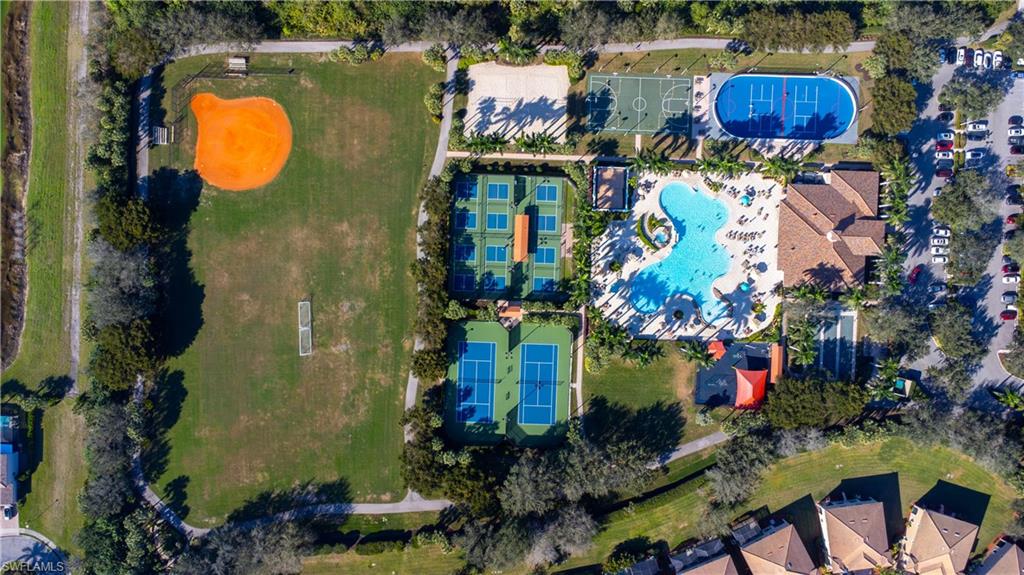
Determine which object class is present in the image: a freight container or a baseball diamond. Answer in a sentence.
I can see a baseball diamond in this picture.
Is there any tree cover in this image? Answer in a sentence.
Yes, the picture does contain tree cover.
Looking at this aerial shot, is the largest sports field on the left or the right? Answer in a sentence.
You can find the largest sports field on the left side of the picture.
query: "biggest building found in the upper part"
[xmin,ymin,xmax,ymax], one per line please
[777,170,885,288]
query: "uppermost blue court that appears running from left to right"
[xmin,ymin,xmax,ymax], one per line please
[705,73,860,144]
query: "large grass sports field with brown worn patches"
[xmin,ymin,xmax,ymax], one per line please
[148,51,448,529]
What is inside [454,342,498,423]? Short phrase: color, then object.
blue tennis court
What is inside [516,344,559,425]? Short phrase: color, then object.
blue tennis court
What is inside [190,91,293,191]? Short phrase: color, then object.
orange baseball field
